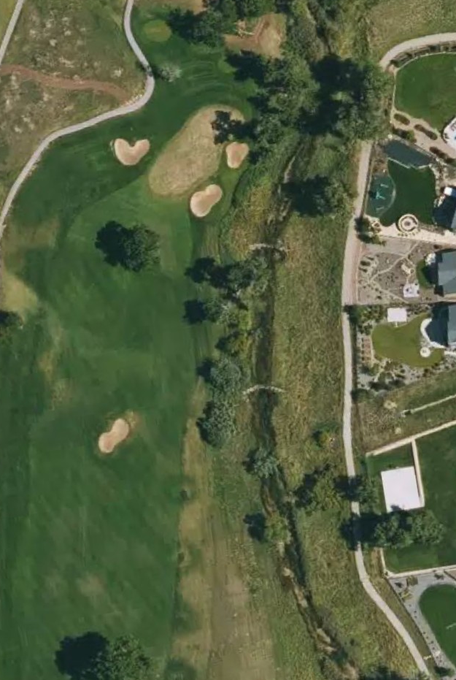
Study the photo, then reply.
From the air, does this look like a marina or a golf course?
golf course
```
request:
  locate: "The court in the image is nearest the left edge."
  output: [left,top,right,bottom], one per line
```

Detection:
[369,172,397,218]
